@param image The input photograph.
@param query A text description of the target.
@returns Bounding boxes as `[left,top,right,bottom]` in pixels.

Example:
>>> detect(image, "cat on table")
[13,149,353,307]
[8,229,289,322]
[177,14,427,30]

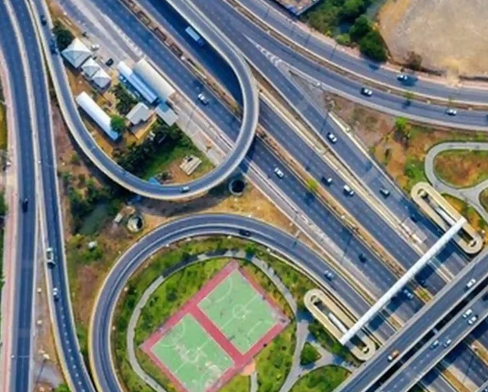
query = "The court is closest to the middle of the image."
[189,261,290,363]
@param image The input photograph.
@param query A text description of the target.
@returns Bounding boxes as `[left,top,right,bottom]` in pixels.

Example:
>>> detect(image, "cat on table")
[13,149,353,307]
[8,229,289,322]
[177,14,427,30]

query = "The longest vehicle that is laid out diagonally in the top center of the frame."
[183,24,203,43]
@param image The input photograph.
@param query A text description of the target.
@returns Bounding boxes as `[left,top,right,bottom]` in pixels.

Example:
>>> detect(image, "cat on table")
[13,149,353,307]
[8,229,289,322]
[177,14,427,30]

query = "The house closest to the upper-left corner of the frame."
[62,38,96,69]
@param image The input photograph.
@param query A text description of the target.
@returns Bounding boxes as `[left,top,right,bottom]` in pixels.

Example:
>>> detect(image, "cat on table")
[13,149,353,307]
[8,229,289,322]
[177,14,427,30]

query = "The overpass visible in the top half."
[29,0,259,199]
